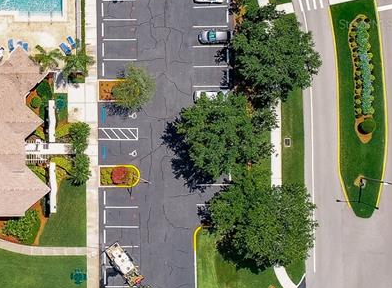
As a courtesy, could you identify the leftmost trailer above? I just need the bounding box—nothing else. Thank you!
[107,243,145,288]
